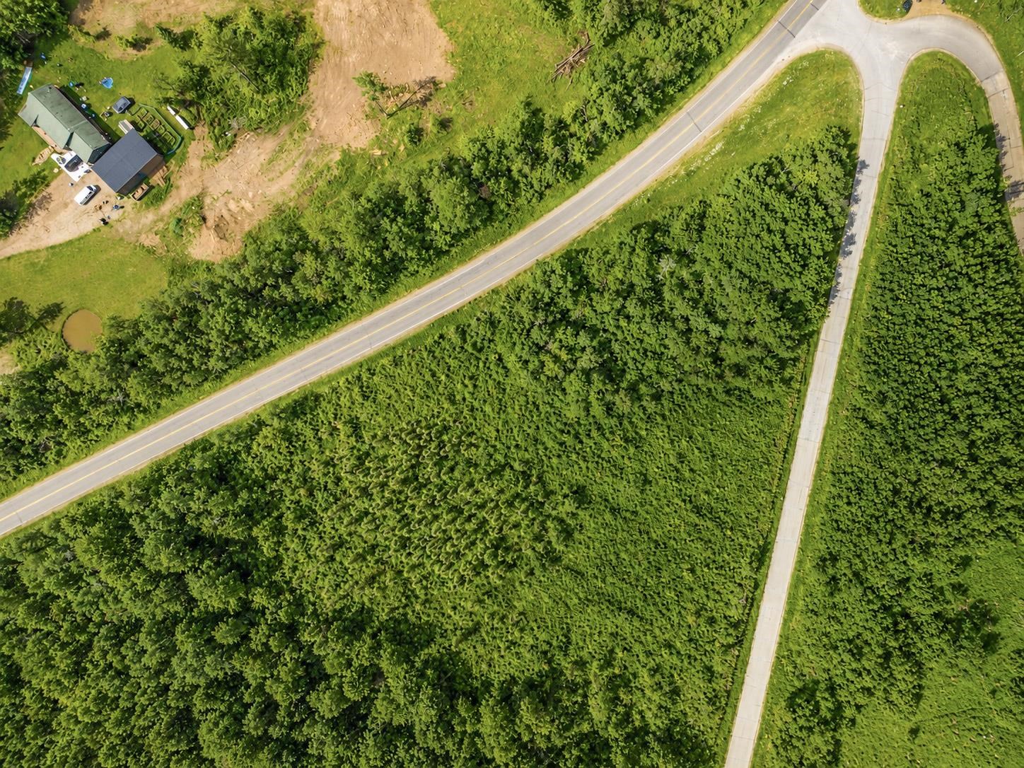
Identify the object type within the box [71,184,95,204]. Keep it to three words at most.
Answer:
vehicle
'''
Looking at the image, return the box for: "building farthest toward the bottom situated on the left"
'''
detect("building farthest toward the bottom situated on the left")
[91,128,163,194]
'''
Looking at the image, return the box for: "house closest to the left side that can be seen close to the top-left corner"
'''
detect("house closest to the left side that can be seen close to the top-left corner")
[19,85,114,165]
